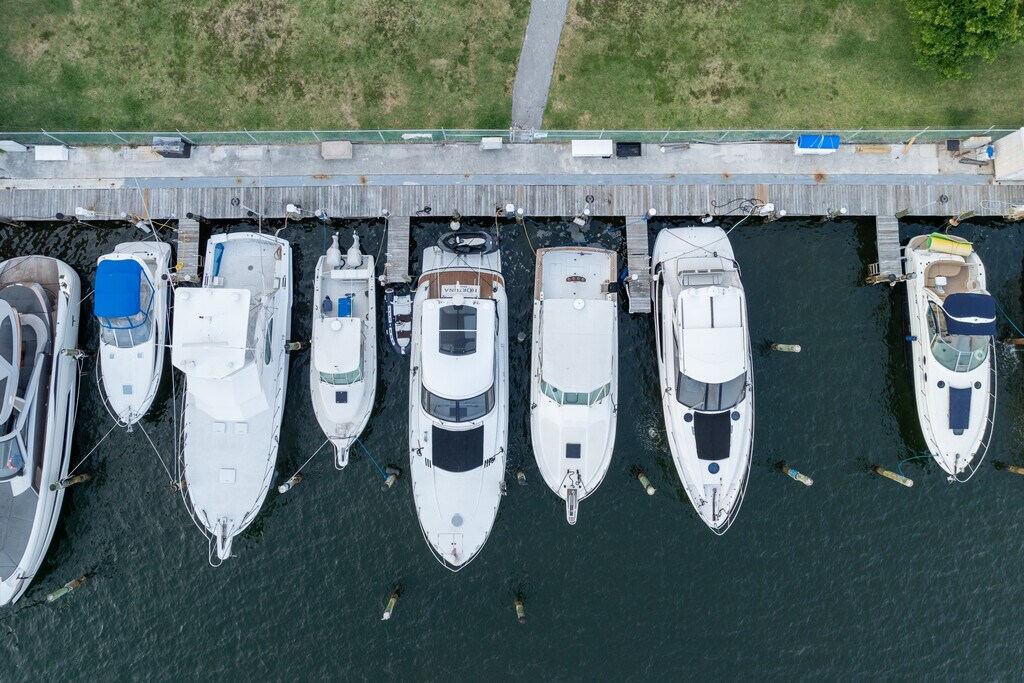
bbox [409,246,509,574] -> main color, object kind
white boat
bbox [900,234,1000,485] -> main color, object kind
white boat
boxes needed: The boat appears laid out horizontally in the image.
[437,229,501,257]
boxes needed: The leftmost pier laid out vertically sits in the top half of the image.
[176,219,202,283]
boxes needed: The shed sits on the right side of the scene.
[995,131,1024,180]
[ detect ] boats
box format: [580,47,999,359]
[437,229,501,257]
[530,246,618,525]
[384,275,420,355]
[409,246,509,574]
[128,232,295,565]
[310,229,377,471]
[900,234,1000,485]
[90,243,173,433]
[651,227,754,534]
[0,257,83,609]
